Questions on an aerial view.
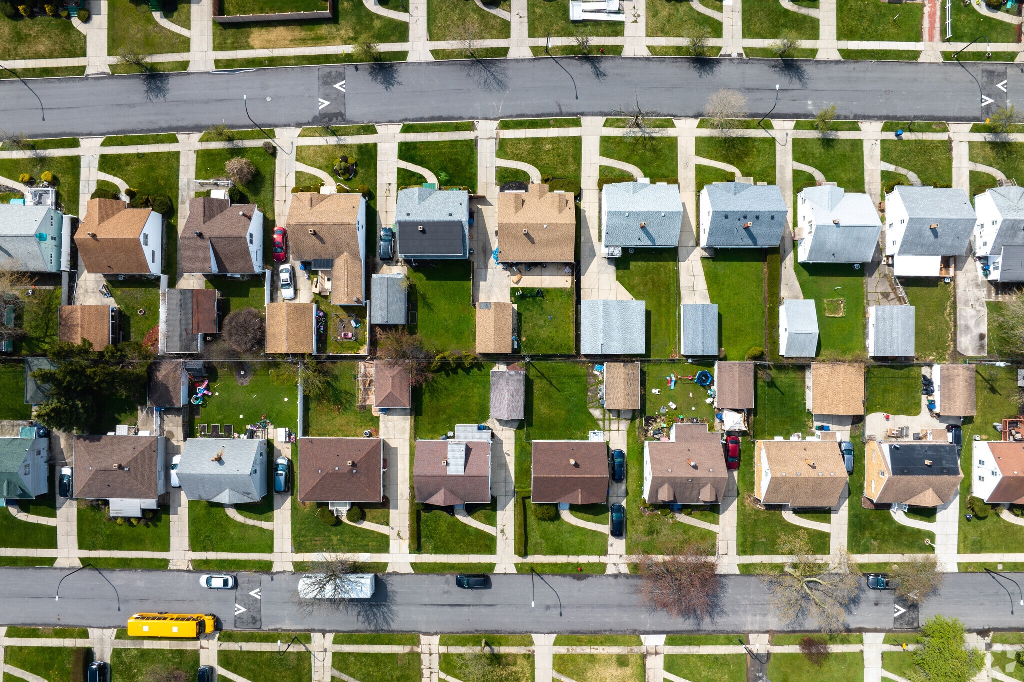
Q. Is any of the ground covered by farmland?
No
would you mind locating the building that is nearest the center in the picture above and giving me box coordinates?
[476,302,512,353]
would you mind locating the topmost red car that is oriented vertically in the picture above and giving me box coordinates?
[272,227,288,262]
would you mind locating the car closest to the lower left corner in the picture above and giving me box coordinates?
[88,658,108,682]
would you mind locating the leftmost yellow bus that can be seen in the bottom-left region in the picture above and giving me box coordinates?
[128,613,217,637]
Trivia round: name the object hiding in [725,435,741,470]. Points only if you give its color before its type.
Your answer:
red car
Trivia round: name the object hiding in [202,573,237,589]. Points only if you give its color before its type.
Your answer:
white car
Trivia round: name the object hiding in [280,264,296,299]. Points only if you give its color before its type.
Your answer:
white car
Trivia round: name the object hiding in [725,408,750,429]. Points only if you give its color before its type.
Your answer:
white tent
